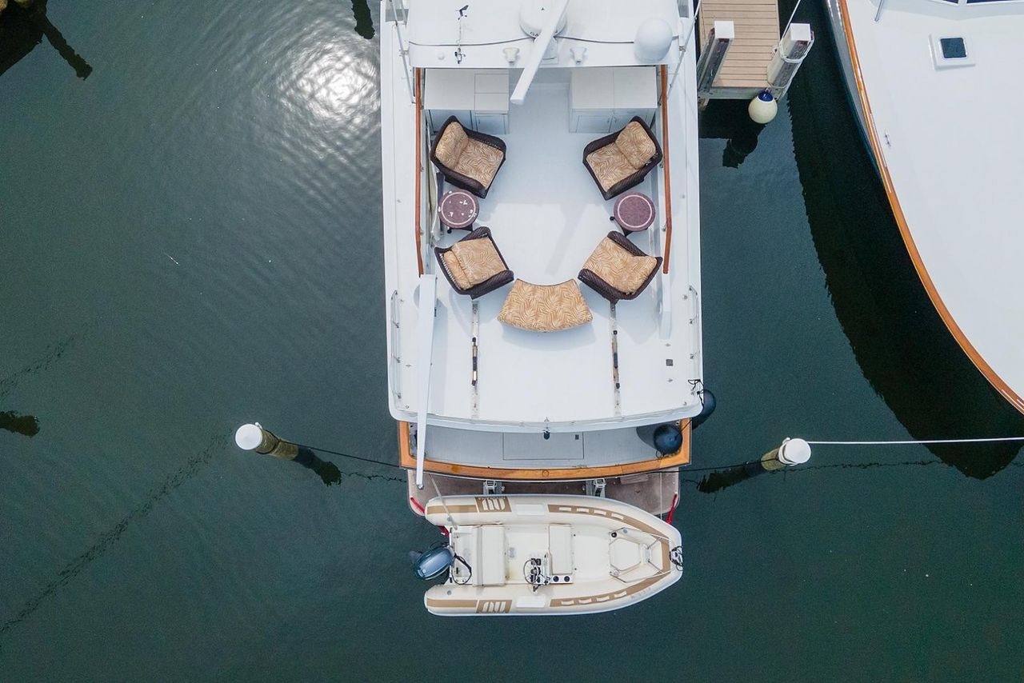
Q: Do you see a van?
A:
No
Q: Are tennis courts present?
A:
No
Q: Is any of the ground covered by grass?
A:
No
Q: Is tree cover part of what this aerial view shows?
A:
No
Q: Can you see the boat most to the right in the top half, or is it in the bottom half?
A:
top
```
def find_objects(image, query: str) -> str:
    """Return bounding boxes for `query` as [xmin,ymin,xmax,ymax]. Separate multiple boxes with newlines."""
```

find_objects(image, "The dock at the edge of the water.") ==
[695,0,779,120]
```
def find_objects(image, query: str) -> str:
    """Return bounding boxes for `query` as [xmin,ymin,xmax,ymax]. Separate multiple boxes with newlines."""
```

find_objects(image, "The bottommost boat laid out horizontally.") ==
[406,493,684,617]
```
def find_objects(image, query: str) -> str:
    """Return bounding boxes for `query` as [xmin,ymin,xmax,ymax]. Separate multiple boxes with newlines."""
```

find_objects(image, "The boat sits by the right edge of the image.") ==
[809,0,1024,416]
